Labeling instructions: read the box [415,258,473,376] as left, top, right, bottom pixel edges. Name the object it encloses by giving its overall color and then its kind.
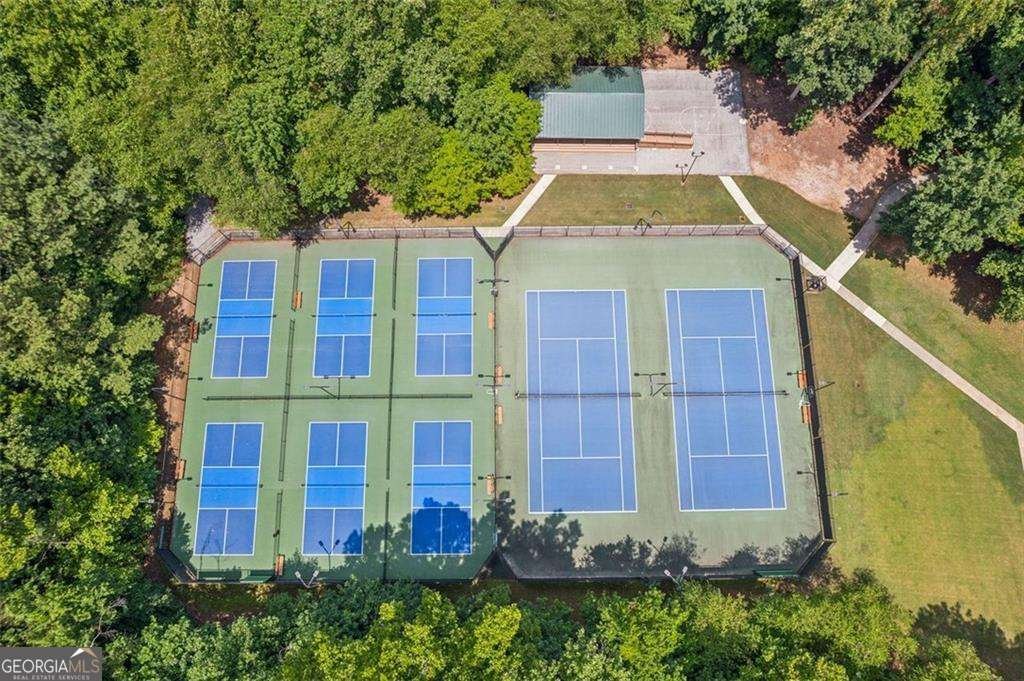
blue sports court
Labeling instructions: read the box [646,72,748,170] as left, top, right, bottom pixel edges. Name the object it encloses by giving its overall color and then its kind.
white basketball court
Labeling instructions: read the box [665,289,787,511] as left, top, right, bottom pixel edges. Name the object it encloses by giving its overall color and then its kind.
blue tennis court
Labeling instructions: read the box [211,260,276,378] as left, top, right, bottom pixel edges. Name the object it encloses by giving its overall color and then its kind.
blue sports court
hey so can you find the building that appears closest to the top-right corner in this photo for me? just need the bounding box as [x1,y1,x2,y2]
[532,67,644,146]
